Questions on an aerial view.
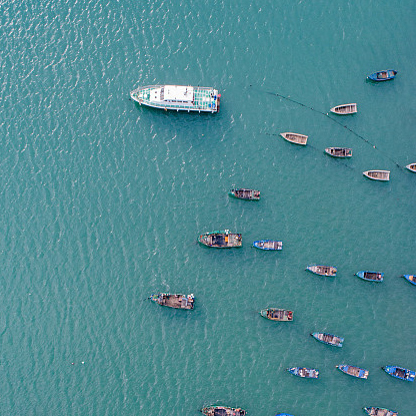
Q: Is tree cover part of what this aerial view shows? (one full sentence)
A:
No, there is no tree cover in the image.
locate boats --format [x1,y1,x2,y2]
[146,291,195,310]
[406,163,416,173]
[203,406,246,416]
[353,270,384,282]
[398,275,416,286]
[255,307,293,321]
[197,231,242,248]
[280,132,308,145]
[360,407,398,416]
[230,188,260,201]
[328,104,357,116]
[308,332,344,346]
[325,147,353,158]
[285,366,319,378]
[251,240,282,251]
[332,364,368,379]
[380,366,416,381]
[303,265,337,276]
[363,170,390,181]
[365,70,397,81]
